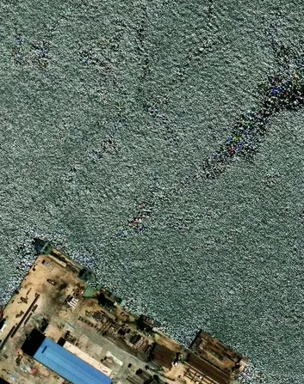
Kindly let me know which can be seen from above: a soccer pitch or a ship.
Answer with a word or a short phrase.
ship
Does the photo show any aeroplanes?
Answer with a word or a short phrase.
No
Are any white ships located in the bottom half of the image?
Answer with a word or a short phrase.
No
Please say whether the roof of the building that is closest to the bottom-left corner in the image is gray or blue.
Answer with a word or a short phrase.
blue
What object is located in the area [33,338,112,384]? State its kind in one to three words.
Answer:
building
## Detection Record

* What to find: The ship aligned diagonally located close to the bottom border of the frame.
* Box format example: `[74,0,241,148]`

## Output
[190,331,246,379]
